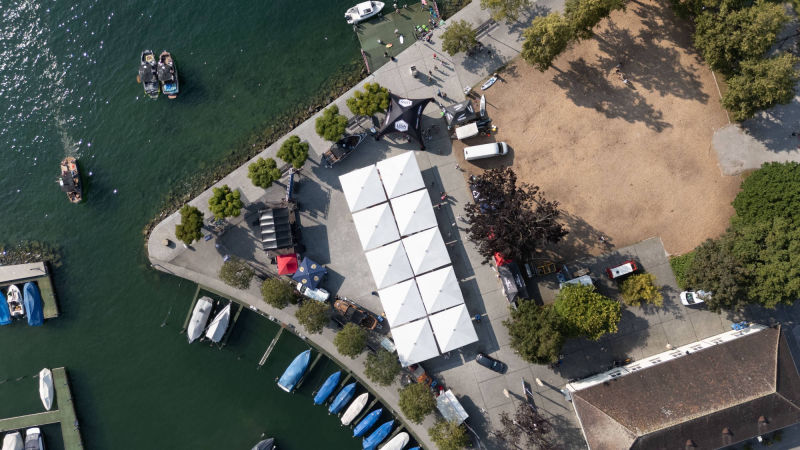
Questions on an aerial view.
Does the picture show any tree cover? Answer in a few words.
Yes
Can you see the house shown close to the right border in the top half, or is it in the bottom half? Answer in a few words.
bottom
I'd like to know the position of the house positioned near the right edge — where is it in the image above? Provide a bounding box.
[566,323,800,450]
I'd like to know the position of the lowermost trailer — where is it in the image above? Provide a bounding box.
[437,384,469,423]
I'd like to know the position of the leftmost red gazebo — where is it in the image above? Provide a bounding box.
[277,254,298,275]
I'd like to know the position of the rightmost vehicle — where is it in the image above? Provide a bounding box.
[677,289,712,306]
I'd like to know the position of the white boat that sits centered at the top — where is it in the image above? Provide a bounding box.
[343,0,384,24]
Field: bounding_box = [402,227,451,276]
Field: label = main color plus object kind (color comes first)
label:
white tent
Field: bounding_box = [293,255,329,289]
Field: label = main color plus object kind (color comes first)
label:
blue gazebo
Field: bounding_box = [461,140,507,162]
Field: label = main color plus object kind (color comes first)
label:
white vehicle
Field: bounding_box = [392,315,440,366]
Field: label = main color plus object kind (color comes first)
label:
white tent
